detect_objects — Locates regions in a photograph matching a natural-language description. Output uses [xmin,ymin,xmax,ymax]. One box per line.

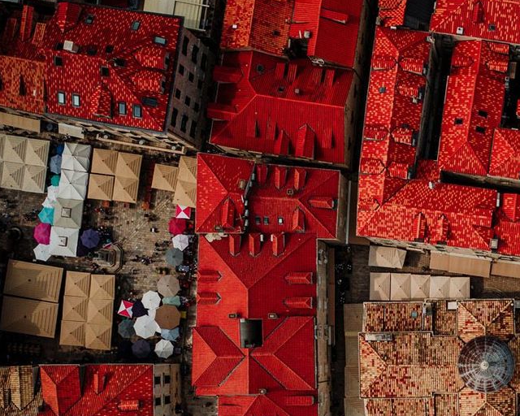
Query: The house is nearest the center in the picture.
[194,151,352,245]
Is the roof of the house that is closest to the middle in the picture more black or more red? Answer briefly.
red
